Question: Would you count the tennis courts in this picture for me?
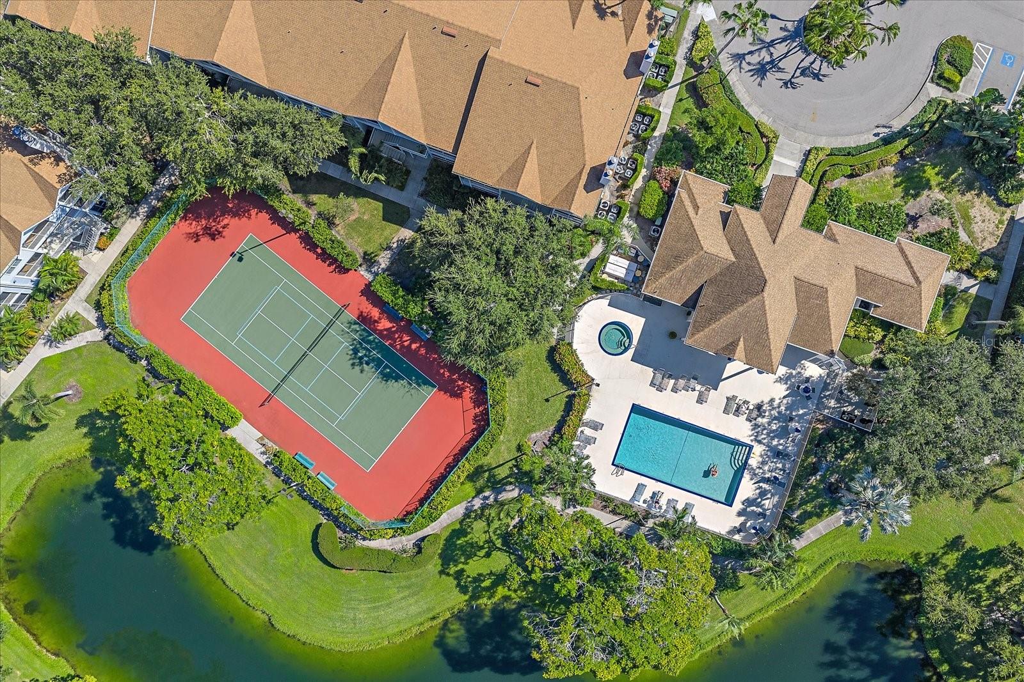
one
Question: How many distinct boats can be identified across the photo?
none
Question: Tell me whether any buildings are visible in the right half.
Yes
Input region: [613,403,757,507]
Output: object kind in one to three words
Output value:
swimming pool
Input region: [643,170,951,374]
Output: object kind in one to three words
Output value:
building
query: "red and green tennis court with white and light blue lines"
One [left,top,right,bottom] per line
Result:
[130,192,488,522]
